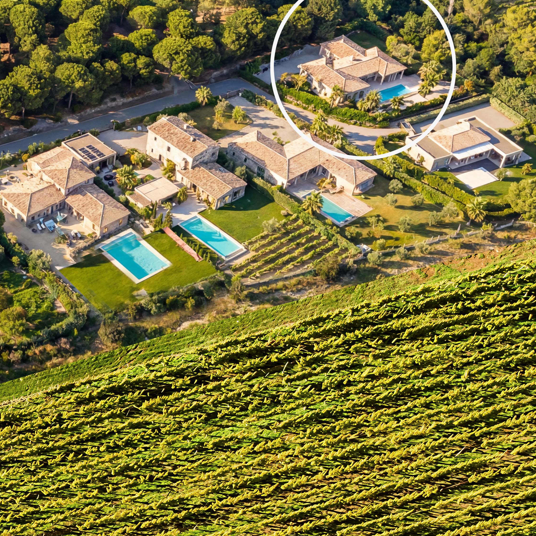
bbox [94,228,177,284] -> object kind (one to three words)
swimming pool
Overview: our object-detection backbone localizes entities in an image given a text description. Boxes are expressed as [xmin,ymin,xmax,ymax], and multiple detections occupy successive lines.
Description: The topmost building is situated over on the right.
[301,37,409,103]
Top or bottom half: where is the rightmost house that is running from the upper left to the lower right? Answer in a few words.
top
